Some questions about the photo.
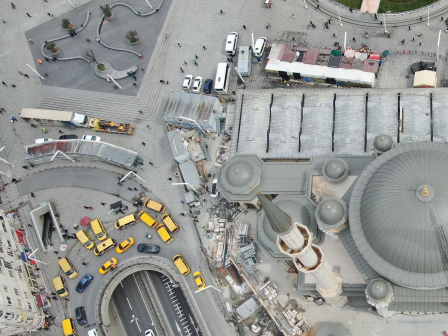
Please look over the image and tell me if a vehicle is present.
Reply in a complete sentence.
Yes, there's a vehicle here.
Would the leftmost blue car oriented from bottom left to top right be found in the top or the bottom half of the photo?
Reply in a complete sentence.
Seen from above, the leftmost blue car oriented from bottom left to top right lies in the bottom half of the view.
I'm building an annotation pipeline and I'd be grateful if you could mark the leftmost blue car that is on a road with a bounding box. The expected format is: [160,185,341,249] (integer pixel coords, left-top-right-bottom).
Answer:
[73,271,93,293]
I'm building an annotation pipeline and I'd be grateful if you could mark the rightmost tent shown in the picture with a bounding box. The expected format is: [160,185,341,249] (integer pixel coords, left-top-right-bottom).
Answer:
[414,73,437,88]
